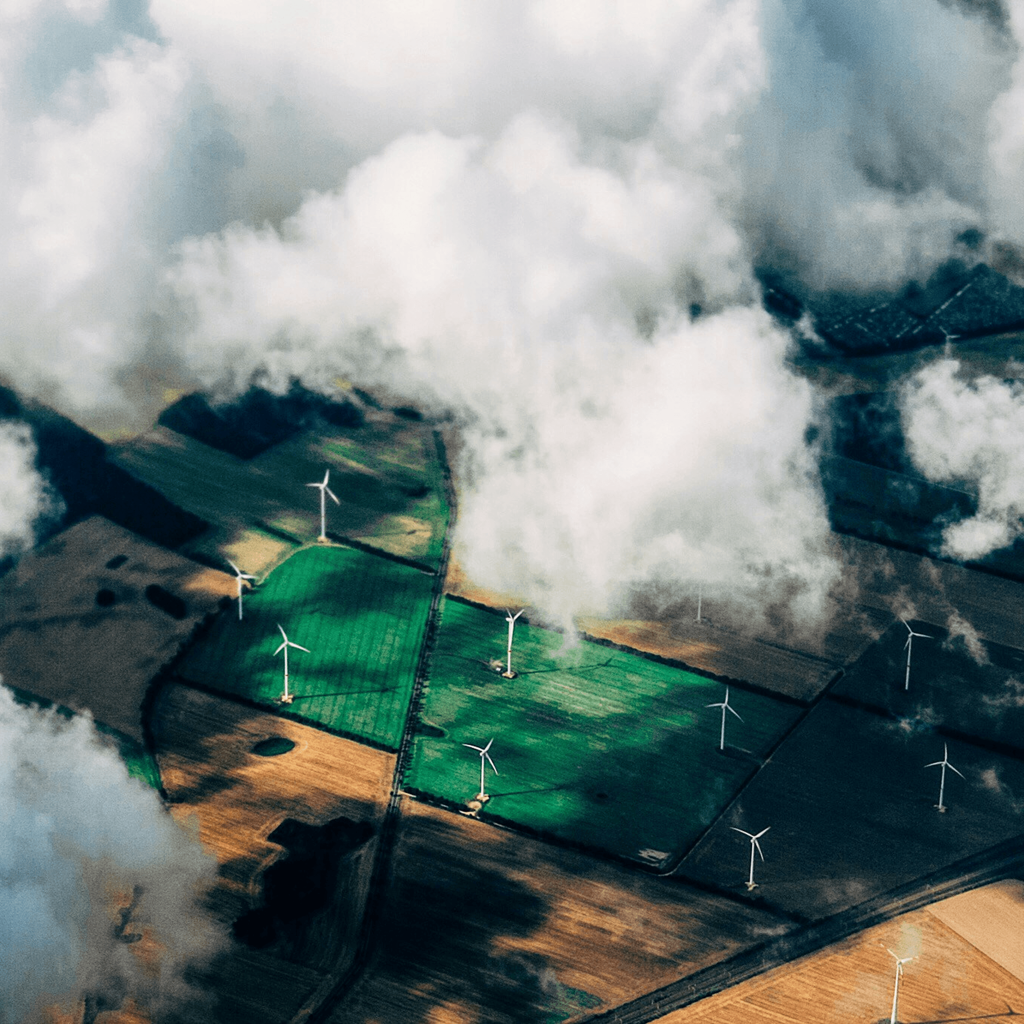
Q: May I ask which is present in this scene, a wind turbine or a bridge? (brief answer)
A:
wind turbine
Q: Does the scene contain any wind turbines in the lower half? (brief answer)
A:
Yes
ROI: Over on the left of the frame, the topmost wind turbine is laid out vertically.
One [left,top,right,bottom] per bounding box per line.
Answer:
[307,466,337,542]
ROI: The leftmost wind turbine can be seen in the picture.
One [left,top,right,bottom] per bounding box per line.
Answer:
[228,554,259,621]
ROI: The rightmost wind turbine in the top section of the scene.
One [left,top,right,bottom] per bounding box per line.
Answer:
[944,314,975,379]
